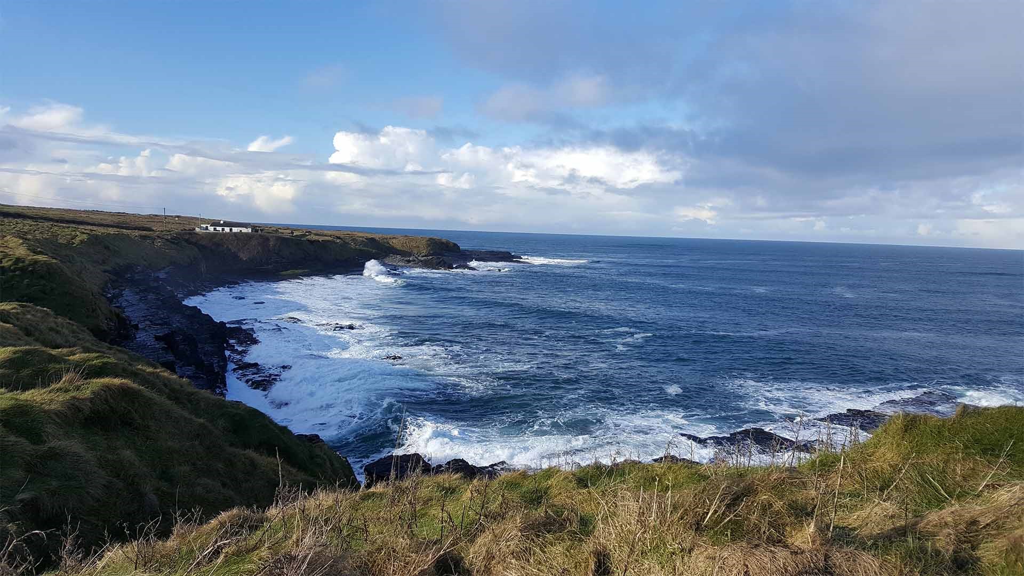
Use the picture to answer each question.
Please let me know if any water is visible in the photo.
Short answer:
Yes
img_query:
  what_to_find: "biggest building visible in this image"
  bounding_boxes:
[195,219,257,234]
